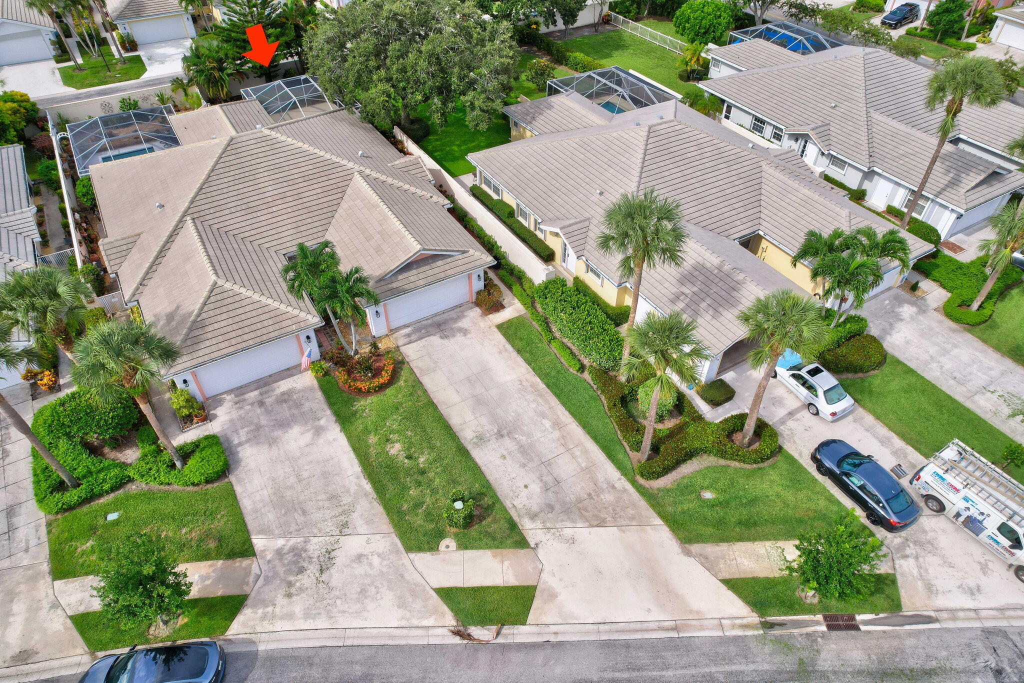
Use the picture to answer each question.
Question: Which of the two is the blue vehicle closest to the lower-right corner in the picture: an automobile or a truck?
automobile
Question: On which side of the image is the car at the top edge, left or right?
right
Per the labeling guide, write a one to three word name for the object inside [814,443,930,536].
car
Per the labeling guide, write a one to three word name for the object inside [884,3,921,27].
car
